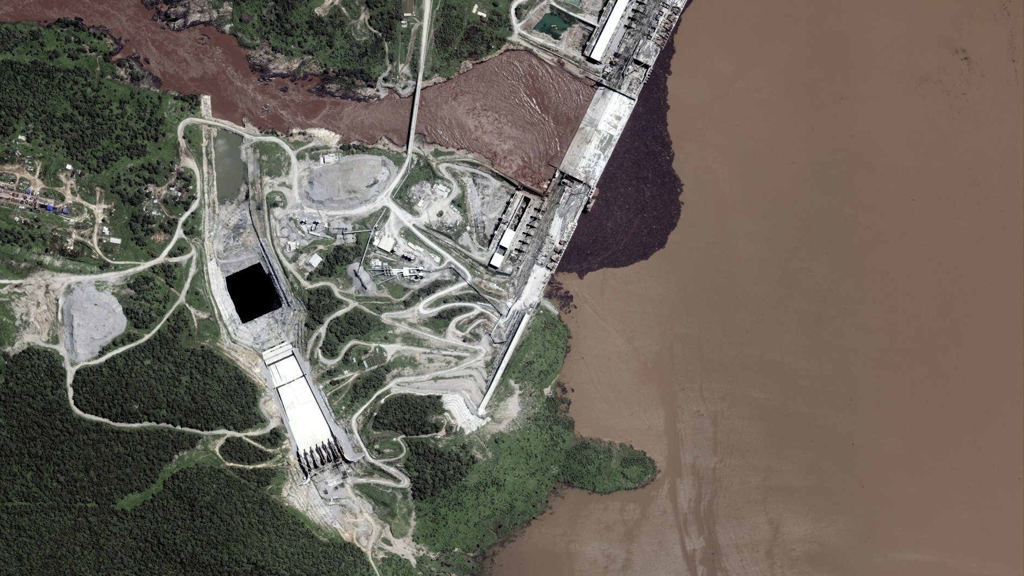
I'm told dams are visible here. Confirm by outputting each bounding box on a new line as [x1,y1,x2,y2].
[475,0,689,415]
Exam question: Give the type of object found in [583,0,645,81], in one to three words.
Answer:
building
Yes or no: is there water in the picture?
Yes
